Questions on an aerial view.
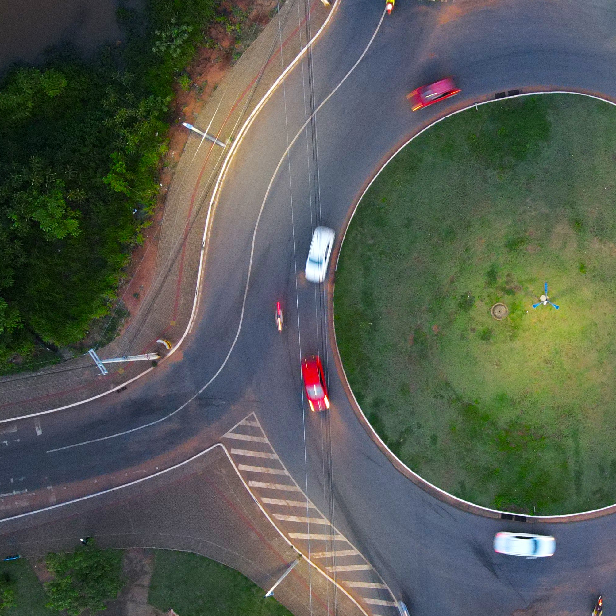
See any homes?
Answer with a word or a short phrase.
No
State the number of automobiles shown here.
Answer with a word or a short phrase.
4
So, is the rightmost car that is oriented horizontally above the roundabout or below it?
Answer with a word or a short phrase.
below it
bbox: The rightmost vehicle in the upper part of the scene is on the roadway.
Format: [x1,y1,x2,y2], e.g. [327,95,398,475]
[410,78,461,116]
